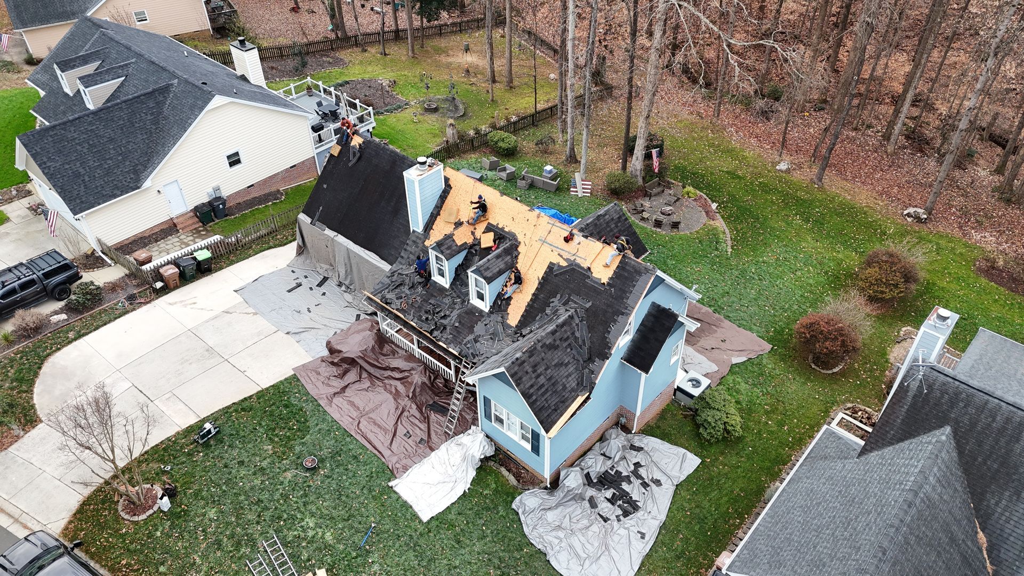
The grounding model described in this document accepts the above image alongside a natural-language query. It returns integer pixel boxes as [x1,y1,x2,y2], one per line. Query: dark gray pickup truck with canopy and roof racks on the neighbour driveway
[0,241,88,322]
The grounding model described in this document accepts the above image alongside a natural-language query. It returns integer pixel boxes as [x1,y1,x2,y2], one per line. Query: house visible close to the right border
[710,300,1024,576]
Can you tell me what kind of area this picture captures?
residential area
